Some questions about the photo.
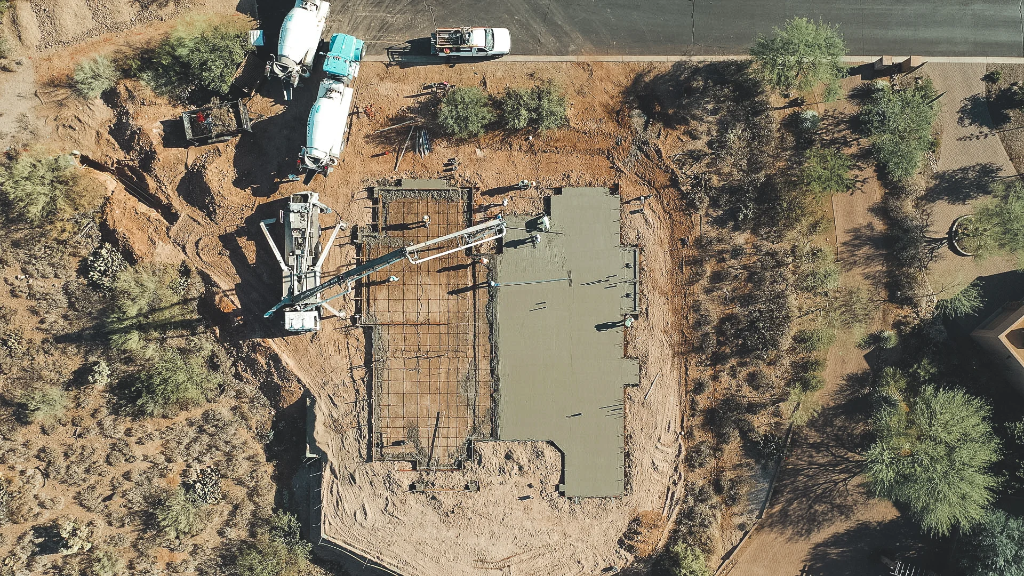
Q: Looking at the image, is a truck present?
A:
Yes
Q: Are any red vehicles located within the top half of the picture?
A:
No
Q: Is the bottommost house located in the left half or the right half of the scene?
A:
right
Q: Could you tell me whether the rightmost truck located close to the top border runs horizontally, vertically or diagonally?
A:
horizontally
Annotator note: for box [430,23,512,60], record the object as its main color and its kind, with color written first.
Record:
white truck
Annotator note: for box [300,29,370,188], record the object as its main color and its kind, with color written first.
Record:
white truck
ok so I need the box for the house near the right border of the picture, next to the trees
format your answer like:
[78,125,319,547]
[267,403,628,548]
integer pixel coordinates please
[941,281,1024,409]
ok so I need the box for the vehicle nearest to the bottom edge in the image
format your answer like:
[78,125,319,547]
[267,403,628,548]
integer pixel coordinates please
[261,193,519,330]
